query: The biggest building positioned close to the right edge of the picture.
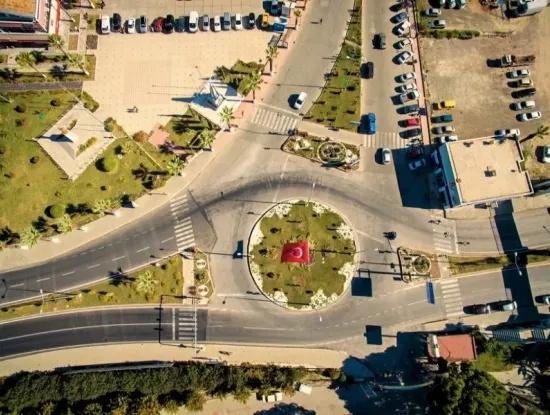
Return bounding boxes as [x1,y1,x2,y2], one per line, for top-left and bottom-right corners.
[428,135,534,208]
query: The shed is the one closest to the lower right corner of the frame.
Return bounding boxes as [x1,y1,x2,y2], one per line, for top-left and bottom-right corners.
[427,331,476,360]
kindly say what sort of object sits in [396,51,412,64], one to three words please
vehicle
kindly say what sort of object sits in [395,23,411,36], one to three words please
vehicle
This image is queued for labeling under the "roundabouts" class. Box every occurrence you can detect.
[248,201,356,311]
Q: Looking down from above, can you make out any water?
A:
No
